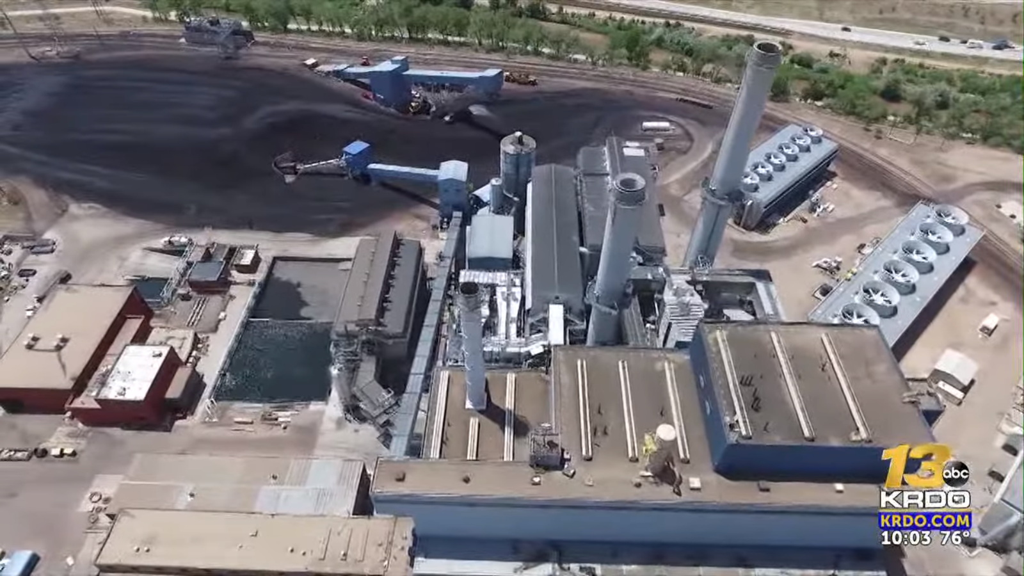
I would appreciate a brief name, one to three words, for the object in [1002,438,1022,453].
car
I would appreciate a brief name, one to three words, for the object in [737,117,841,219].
cooling tower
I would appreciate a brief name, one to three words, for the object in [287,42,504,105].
building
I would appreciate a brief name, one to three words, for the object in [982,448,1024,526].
shed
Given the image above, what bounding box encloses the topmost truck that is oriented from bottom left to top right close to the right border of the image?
[981,310,1003,334]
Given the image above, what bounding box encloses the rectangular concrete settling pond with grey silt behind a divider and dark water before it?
[208,256,355,412]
